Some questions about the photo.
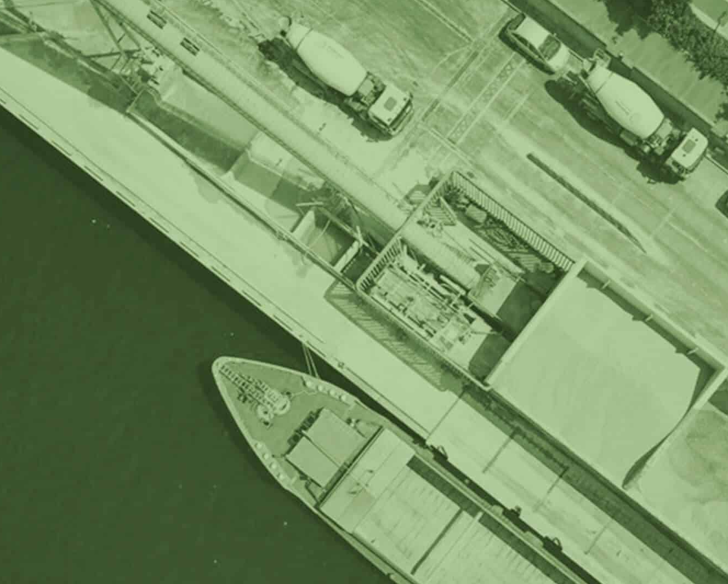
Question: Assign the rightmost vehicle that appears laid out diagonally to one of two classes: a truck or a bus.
truck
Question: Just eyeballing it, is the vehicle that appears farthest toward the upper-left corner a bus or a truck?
truck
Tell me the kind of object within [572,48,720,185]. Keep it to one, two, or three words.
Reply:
truck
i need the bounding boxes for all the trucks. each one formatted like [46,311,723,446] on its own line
[273,10,423,142]
[572,48,720,185]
